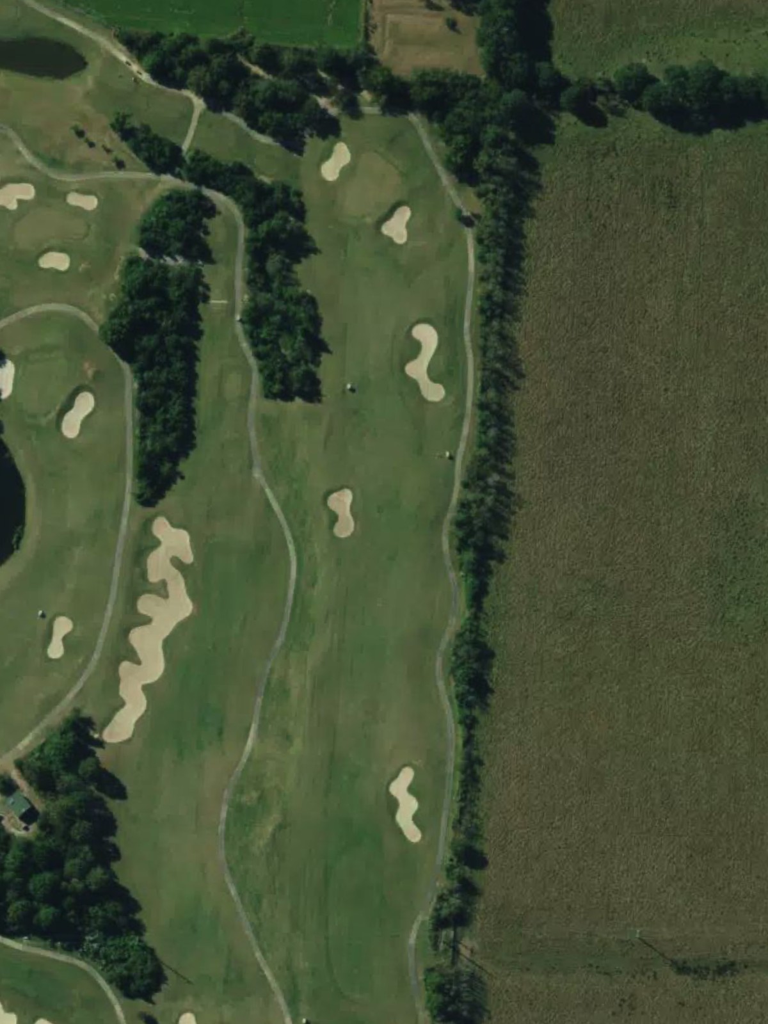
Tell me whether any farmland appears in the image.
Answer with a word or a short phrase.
Yes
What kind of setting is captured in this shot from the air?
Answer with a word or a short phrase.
golf course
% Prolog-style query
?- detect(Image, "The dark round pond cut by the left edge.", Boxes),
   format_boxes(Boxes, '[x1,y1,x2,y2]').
[0,436,25,565]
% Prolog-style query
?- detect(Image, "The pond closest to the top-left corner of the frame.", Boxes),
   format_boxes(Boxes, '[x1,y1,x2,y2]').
[0,38,87,78]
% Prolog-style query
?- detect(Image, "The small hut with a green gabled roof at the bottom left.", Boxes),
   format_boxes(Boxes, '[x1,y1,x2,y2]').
[6,792,30,817]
